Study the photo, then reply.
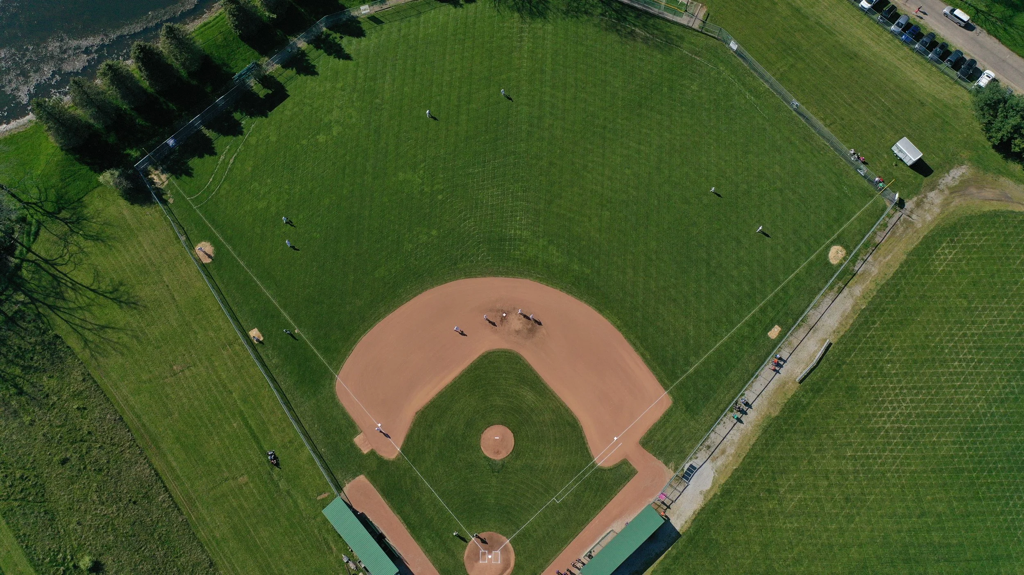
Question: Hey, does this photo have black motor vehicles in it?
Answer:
Yes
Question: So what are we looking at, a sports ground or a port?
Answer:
sports ground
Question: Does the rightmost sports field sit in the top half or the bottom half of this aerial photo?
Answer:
bottom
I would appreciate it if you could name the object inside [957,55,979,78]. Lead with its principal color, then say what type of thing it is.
black car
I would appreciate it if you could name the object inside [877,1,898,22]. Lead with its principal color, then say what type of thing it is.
black car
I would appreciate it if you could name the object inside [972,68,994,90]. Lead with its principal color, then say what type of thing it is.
white car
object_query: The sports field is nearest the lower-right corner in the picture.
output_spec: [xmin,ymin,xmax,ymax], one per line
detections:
[647,211,1024,575]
